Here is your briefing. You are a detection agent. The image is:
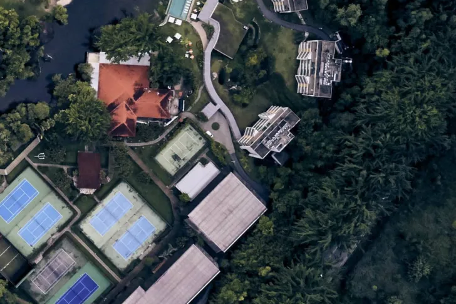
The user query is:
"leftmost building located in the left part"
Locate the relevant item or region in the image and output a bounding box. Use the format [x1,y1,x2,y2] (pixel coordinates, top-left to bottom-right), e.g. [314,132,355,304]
[75,147,100,193]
